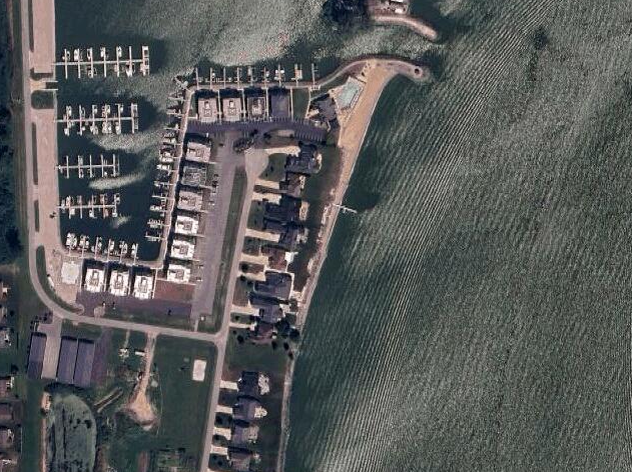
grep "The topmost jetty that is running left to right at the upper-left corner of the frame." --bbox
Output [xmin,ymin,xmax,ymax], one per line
[57,47,150,78]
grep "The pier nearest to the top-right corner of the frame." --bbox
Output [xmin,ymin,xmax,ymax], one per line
[373,16,437,37]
